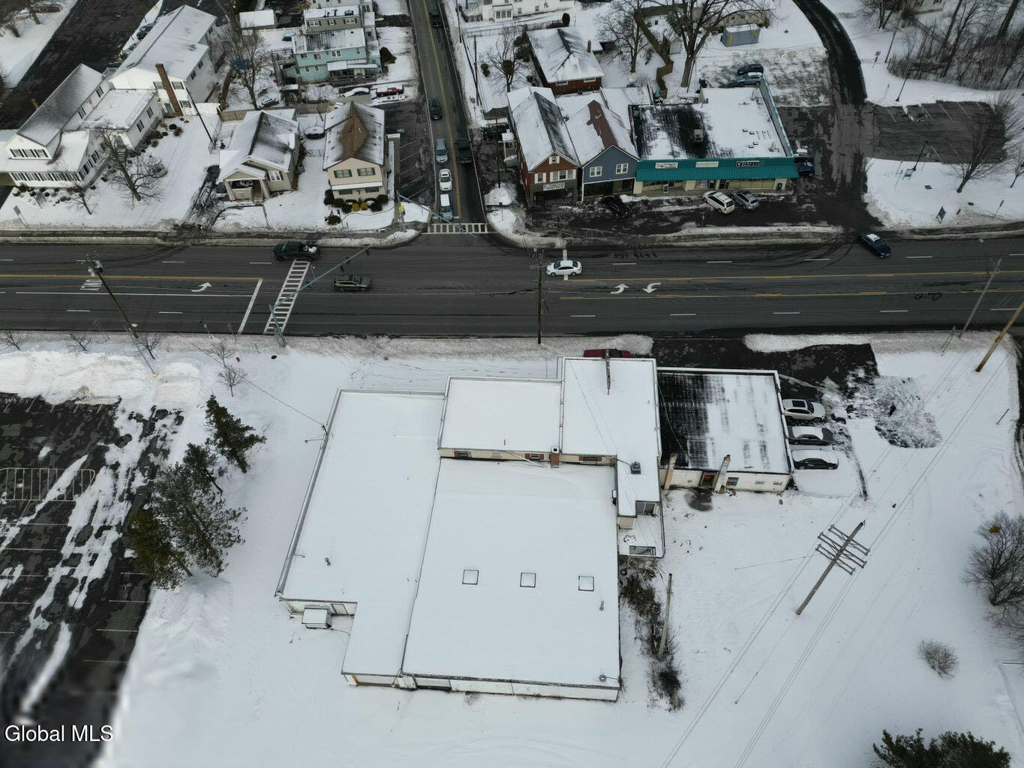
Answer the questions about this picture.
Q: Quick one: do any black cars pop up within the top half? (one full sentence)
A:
Yes, the scene does show a black car within the top half.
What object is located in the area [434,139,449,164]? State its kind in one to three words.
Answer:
car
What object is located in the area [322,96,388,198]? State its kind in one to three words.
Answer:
house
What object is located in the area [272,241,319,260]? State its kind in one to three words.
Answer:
vehicle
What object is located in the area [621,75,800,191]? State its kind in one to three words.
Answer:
building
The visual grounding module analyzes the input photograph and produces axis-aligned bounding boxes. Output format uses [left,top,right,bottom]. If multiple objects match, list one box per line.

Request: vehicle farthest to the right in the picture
[856,234,896,256]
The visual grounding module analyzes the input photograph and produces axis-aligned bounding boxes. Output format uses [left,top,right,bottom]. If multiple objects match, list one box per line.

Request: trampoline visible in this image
[301,120,324,142]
